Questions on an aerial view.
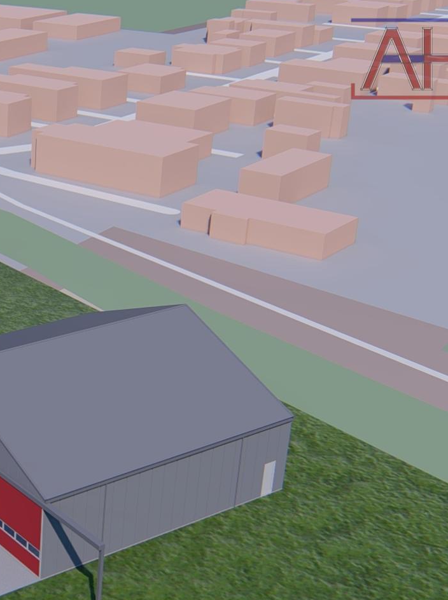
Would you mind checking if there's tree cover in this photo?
No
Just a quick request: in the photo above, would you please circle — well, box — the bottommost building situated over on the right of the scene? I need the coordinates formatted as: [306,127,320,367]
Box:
[180,190,358,260]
